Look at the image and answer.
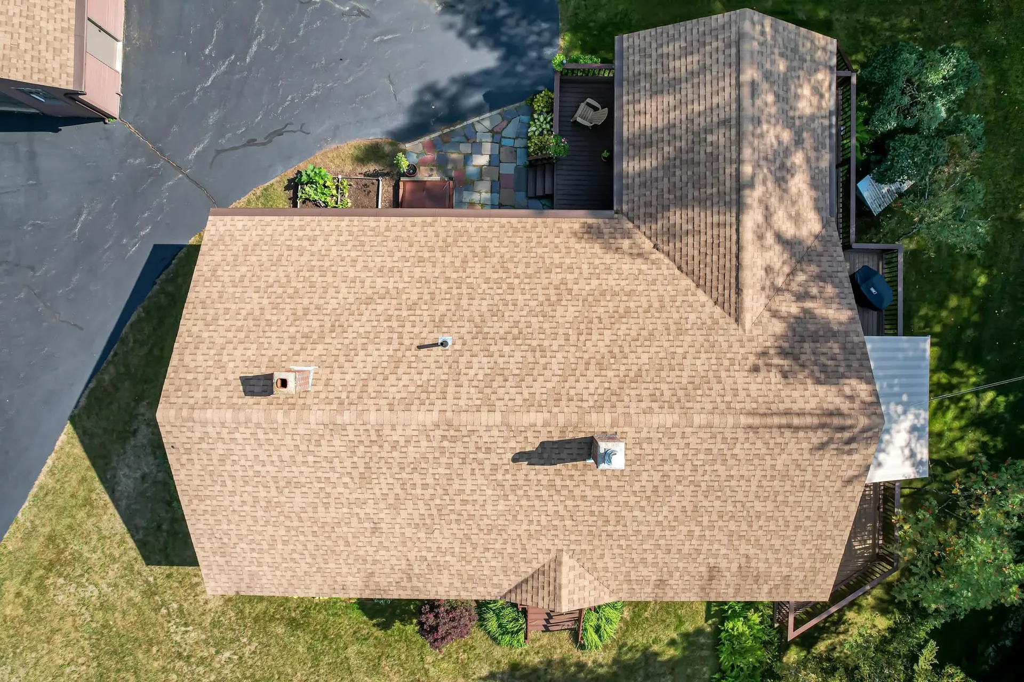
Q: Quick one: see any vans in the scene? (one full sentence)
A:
No, this view has no van in it.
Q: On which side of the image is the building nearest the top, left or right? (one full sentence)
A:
You can find the building nearest the top on the left side of the picture.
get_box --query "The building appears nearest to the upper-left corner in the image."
[0,0,124,122]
